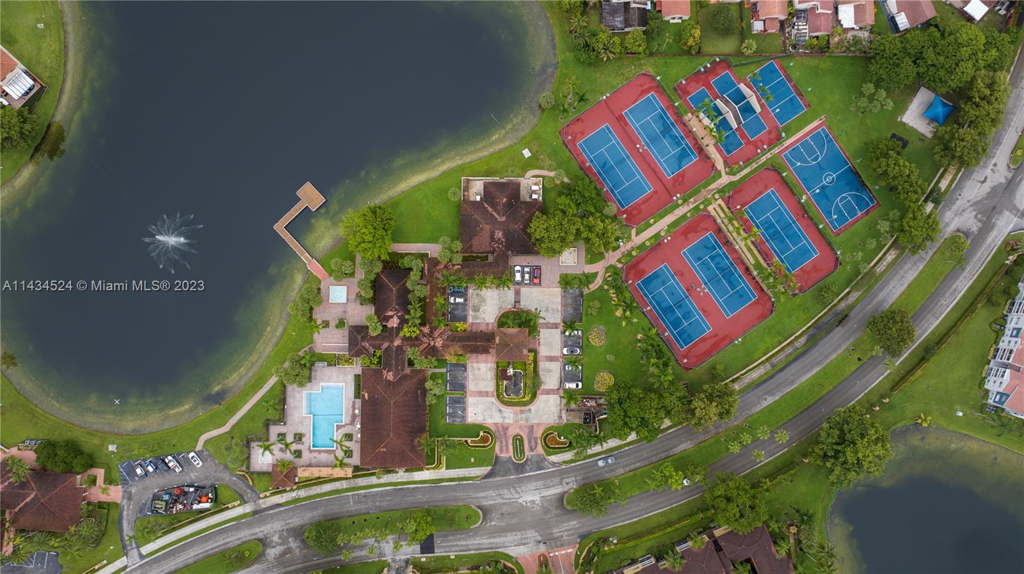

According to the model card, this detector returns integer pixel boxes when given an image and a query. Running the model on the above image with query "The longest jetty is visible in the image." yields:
[273,182,330,280]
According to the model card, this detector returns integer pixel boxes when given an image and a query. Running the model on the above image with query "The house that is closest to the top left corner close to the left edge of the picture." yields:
[0,44,40,108]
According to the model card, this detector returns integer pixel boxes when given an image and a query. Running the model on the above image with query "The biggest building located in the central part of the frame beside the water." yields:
[348,181,543,468]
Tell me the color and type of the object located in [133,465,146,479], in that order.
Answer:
white vehicle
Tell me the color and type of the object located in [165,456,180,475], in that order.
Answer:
white vehicle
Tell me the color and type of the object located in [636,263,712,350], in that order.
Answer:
blue tennis court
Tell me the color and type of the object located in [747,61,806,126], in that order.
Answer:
blue sports court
